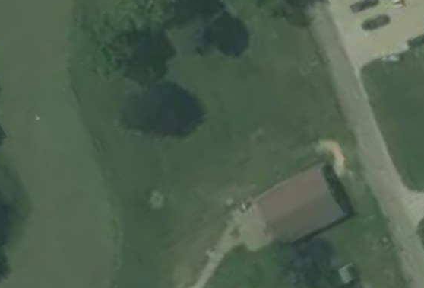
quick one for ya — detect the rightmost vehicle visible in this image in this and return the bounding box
[406,35,424,50]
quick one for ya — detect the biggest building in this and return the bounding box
[257,165,346,240]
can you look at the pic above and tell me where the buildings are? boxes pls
[338,264,353,283]
[257,165,346,240]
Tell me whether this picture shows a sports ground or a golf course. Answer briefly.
golf course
